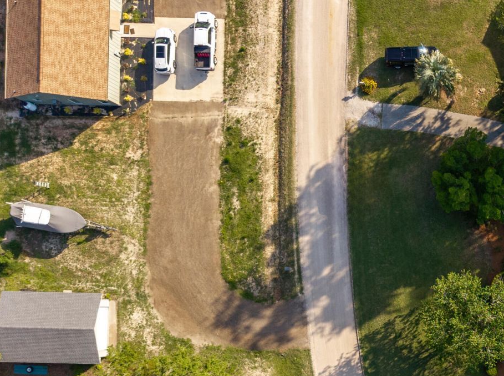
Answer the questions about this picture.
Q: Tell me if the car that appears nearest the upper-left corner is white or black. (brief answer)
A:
white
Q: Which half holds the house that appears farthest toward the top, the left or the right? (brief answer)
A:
left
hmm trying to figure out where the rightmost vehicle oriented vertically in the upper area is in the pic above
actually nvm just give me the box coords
[193,11,220,76]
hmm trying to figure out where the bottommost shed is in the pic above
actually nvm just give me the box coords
[0,290,110,364]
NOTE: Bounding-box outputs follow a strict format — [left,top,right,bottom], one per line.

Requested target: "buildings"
[5,0,130,106]
[0,290,110,364]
